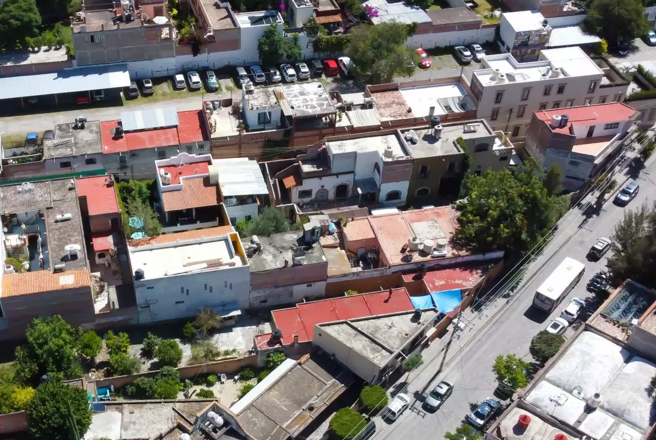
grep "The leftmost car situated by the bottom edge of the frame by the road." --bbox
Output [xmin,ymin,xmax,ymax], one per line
[383,394,411,423]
